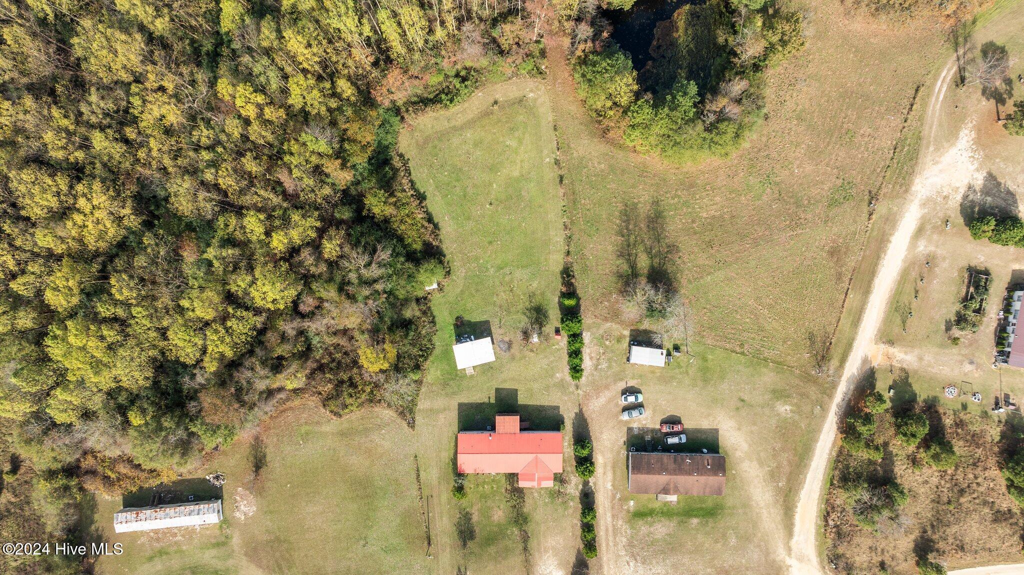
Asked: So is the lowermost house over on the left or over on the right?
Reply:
left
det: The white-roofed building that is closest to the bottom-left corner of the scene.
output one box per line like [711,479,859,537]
[114,500,224,533]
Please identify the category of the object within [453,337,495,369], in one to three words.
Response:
shed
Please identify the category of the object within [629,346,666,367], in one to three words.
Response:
shed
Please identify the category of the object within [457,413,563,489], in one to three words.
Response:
house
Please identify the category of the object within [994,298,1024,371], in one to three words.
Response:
house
